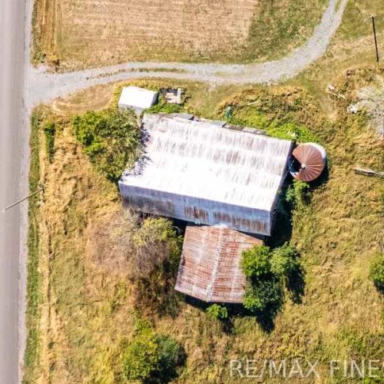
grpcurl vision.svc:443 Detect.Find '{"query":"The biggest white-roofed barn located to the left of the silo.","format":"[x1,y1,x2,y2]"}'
[118,109,293,235]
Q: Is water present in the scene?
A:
No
